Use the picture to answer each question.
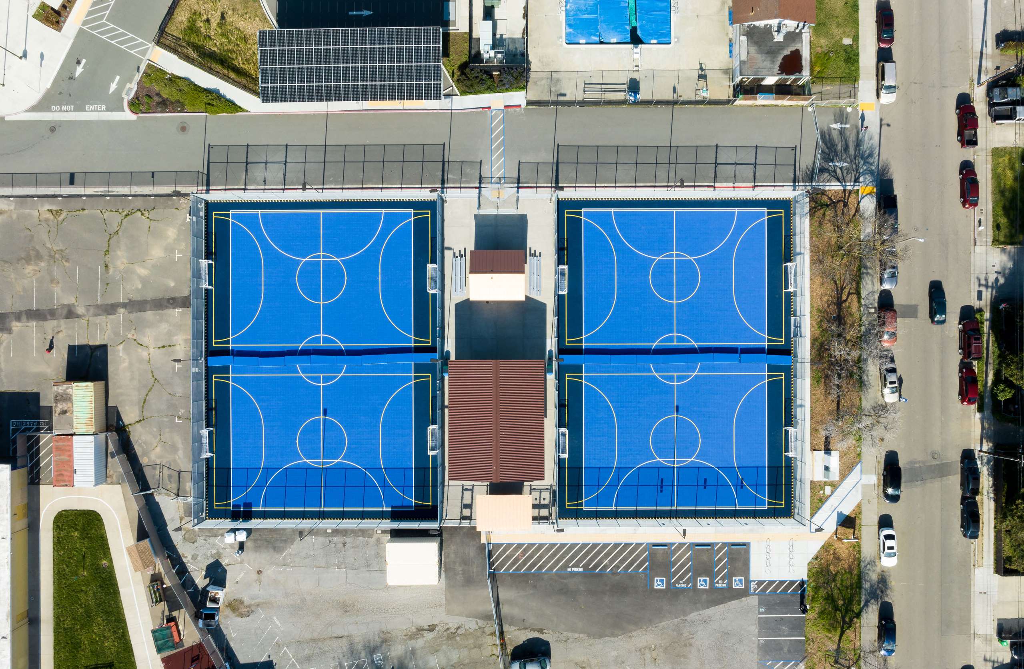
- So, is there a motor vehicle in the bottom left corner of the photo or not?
Yes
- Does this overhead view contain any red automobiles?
Yes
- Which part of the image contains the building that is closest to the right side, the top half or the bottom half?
top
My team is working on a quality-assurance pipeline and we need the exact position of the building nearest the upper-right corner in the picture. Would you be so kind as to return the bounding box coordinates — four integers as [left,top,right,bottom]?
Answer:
[732,0,816,96]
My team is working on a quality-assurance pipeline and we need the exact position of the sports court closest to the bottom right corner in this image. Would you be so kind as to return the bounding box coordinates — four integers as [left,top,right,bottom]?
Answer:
[557,198,794,521]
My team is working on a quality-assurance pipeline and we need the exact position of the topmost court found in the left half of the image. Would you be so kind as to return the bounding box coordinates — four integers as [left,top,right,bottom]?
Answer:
[206,199,445,521]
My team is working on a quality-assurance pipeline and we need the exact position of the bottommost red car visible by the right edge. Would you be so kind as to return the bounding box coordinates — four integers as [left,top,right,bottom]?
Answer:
[958,368,980,405]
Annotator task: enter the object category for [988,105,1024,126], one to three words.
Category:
truck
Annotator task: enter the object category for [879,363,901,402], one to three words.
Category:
car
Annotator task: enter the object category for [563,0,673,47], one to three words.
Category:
swimming pool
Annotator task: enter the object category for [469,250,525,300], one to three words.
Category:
building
